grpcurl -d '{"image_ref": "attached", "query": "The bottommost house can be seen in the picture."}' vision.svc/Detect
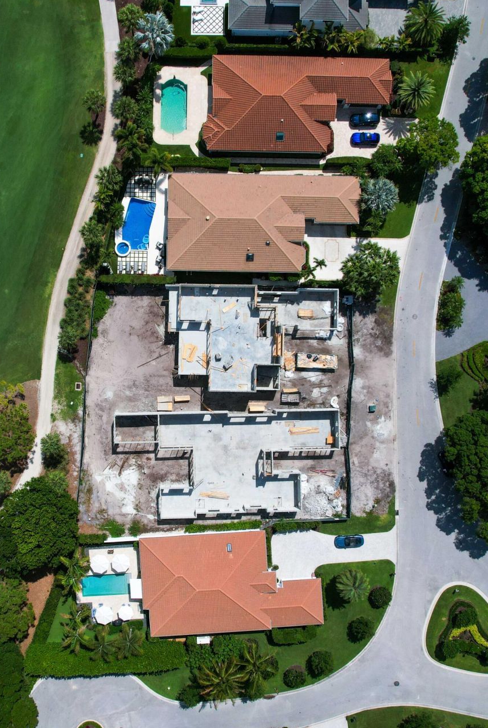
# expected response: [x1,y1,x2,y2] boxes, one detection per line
[139,531,324,638]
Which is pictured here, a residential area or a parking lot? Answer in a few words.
residential area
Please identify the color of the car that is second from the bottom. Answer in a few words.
black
